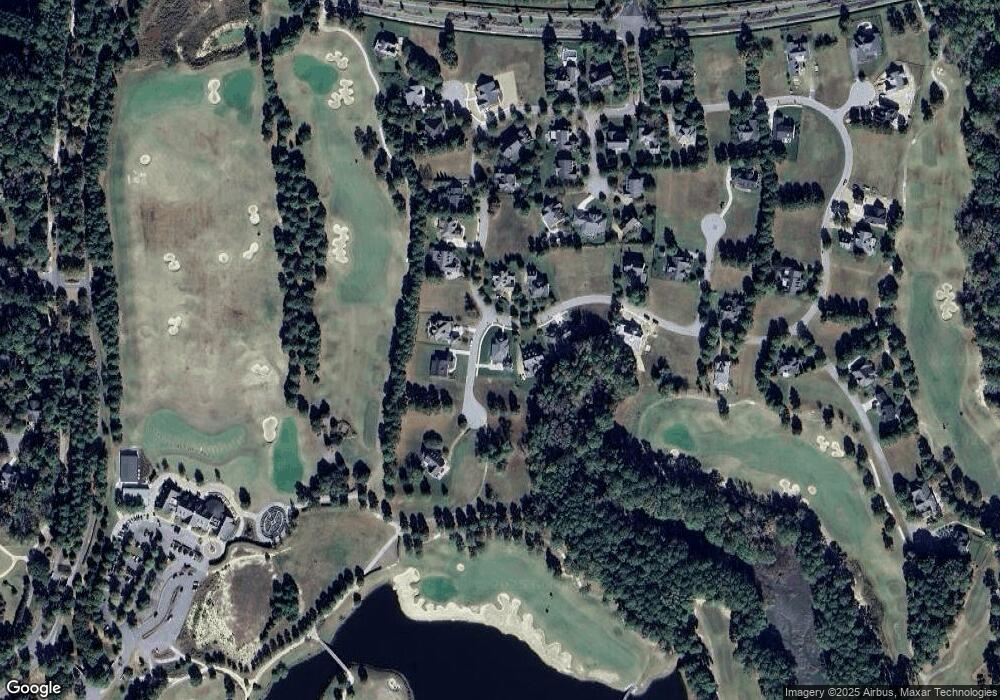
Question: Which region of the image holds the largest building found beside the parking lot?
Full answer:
The largest building found beside the parking lot appears toward the bottom left of the photo.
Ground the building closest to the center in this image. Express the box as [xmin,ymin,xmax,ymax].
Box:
[490,332,510,362]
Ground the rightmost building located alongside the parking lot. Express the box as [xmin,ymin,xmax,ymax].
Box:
[159,486,236,545]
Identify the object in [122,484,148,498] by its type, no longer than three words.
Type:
shed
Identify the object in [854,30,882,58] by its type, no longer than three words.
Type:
house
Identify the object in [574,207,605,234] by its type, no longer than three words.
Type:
house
